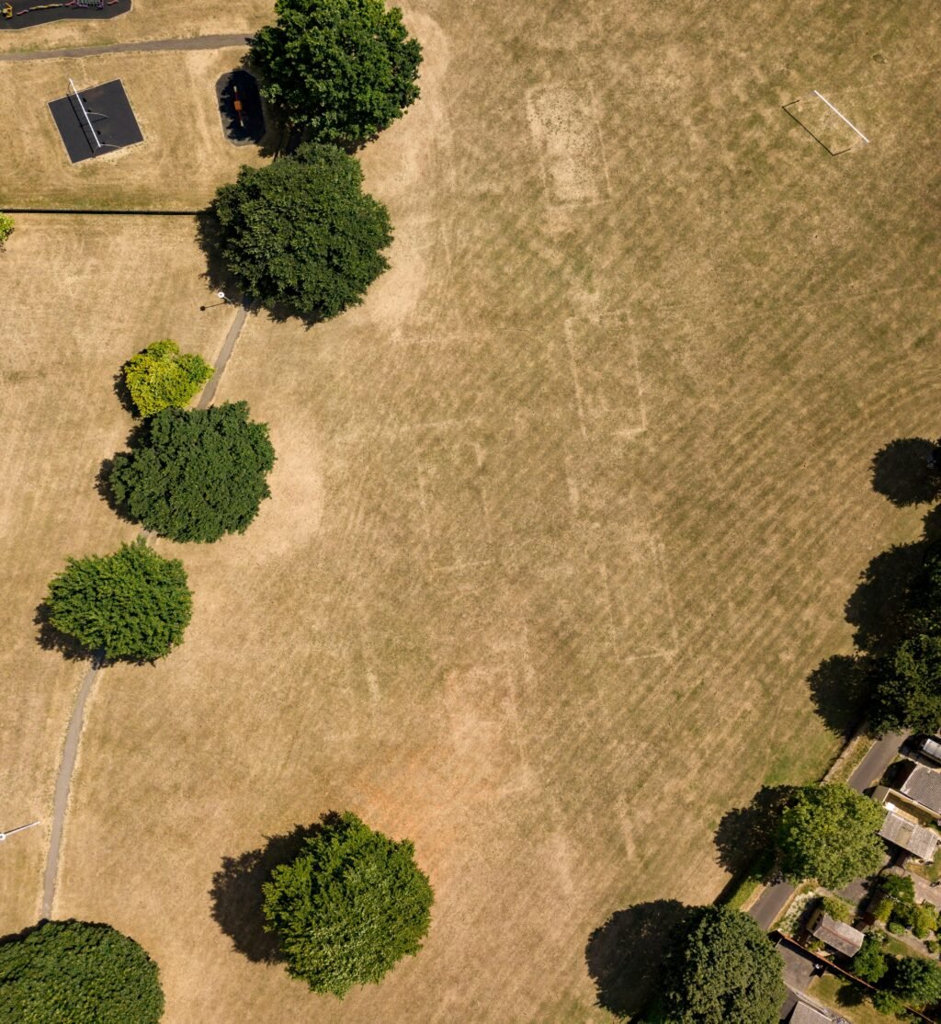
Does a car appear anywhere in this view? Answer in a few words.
No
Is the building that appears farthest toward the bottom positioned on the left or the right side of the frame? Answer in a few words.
right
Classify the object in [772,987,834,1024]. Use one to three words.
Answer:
building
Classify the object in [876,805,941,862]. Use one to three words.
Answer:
building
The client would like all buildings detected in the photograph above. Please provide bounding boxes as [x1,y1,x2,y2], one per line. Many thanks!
[806,905,865,957]
[893,757,941,813]
[772,987,834,1024]
[866,782,892,805]
[876,805,941,862]
[911,739,941,768]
